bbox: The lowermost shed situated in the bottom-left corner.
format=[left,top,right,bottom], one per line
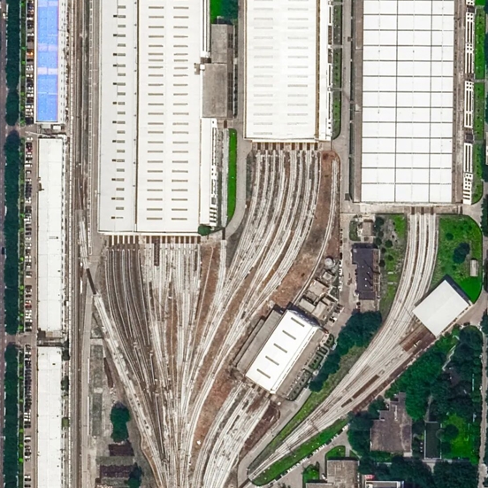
[37,346,65,488]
